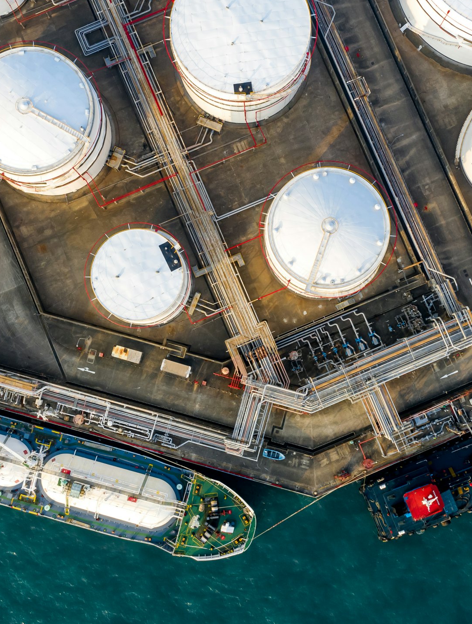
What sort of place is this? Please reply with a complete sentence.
This looks like an industrial area.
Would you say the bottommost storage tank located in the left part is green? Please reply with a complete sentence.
No, the bottommost storage tank located in the left part is white.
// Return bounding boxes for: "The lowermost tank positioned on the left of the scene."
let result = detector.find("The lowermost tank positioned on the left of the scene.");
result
[84,221,194,328]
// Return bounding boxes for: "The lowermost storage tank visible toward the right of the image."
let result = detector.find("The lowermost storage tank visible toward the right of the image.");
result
[259,161,397,301]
